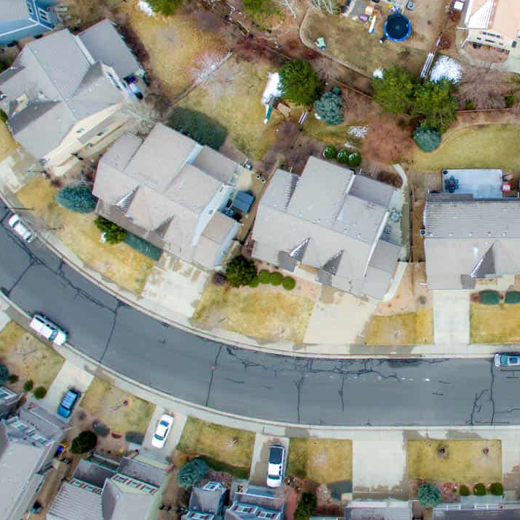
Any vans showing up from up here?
Yes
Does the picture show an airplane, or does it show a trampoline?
trampoline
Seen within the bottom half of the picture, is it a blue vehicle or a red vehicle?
blue vehicle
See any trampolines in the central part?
No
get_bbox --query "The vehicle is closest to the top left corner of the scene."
[8,214,37,243]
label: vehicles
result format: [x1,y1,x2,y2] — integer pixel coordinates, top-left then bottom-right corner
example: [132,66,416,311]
[58,387,81,418]
[8,214,37,243]
[152,415,173,448]
[495,353,520,368]
[30,314,66,343]
[266,446,283,486]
